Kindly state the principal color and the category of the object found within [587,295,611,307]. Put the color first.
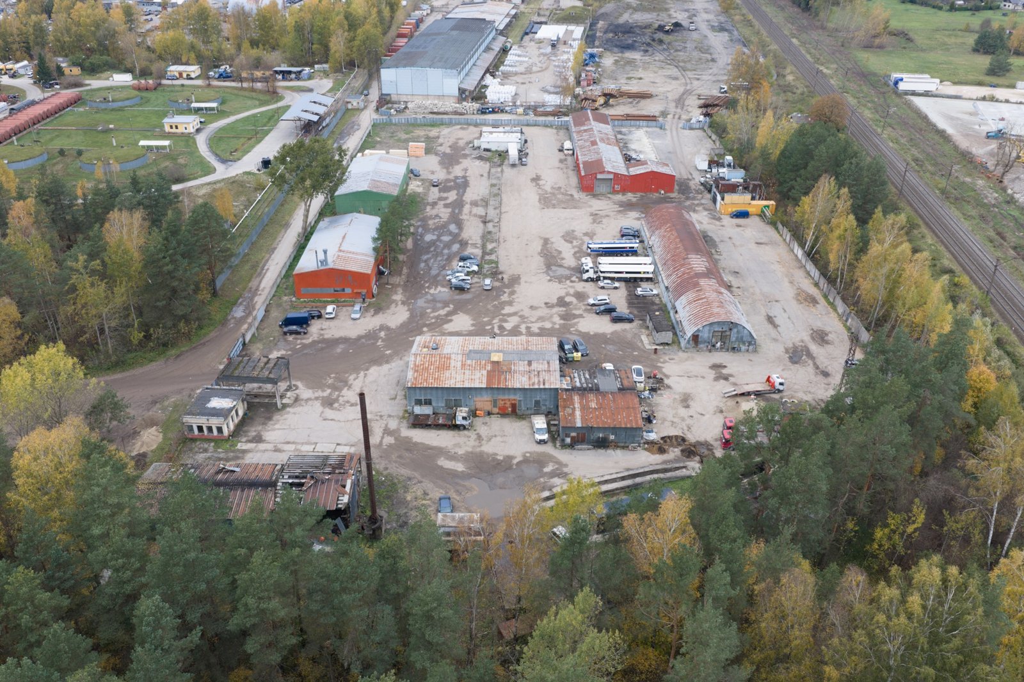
white vehicle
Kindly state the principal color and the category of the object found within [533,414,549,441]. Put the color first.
white vehicle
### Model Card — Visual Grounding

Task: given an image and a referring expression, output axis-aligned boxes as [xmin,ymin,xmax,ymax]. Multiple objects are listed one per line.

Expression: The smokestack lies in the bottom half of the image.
[352,391,393,547]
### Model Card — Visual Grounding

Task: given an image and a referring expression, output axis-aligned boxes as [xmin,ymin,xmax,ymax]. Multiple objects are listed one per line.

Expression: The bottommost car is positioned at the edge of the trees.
[437,492,452,509]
